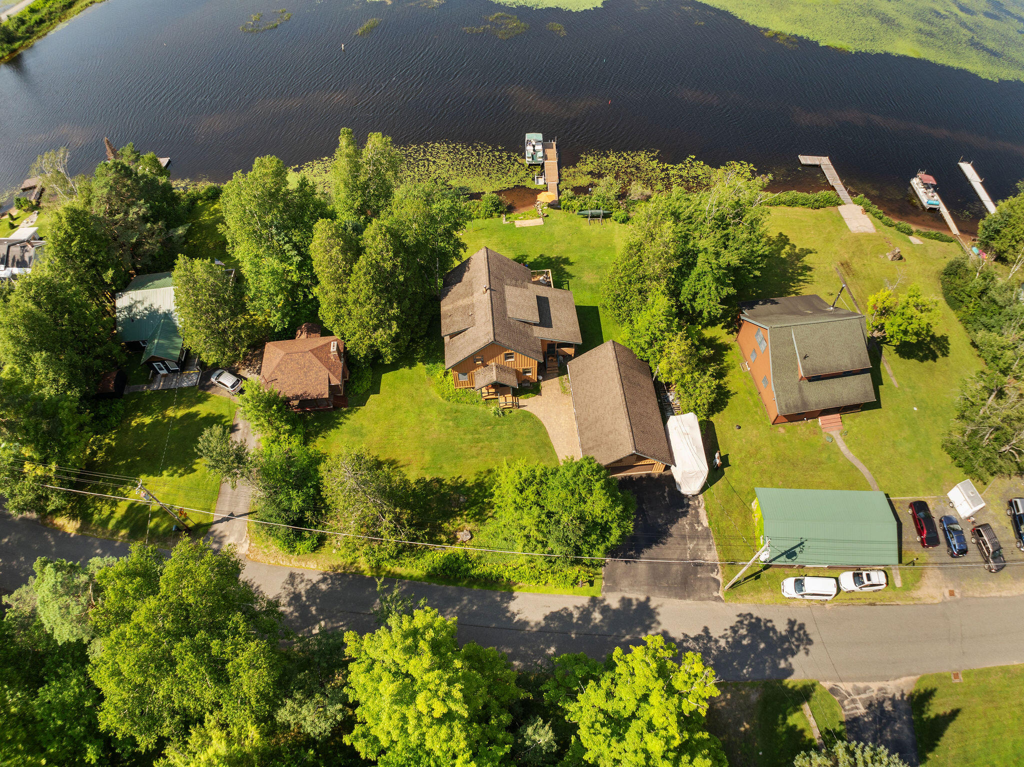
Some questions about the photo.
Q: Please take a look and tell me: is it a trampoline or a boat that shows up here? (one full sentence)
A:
The image shows a boat.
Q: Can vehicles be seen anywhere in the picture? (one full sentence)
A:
Yes, a vehicle is visible in the scene.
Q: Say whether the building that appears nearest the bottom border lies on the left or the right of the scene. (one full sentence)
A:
You can find the building that appears nearest the bottom border on the right side of the picture.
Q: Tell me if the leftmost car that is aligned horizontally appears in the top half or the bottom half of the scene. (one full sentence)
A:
The leftmost car that is aligned horizontally is in the bottom half of the image.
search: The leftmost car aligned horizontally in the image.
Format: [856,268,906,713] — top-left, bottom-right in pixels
[779,573,841,602]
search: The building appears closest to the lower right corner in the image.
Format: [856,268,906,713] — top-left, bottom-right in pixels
[751,488,901,570]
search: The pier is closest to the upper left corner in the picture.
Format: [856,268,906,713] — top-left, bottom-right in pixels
[20,175,44,202]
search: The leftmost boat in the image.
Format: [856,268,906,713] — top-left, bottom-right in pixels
[525,132,543,168]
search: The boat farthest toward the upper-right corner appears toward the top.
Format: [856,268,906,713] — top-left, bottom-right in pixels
[908,173,943,211]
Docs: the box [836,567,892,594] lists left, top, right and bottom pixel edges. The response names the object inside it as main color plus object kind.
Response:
white car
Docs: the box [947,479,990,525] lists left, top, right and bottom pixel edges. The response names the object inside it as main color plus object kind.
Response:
white trailer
